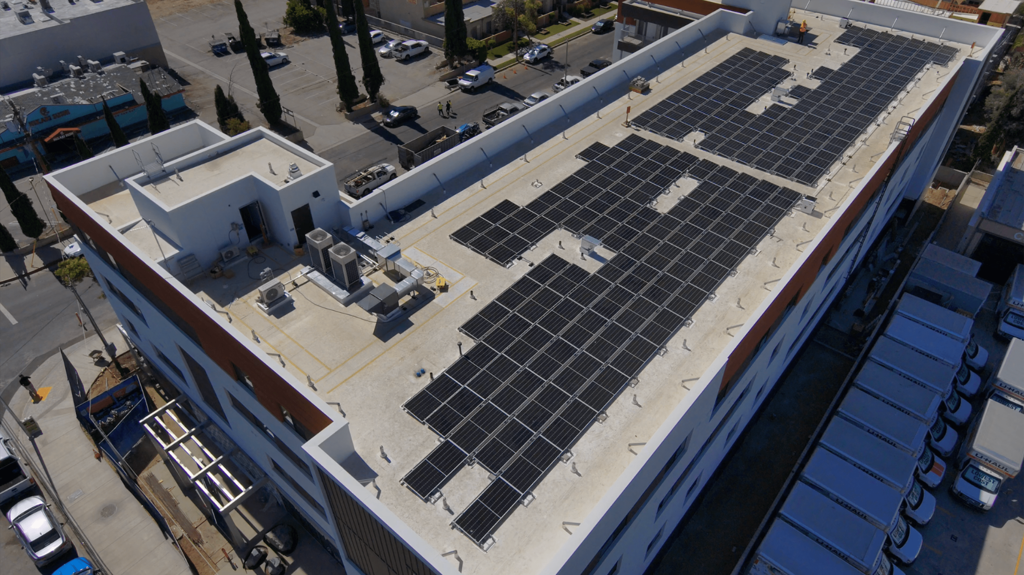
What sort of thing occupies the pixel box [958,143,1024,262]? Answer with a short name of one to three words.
building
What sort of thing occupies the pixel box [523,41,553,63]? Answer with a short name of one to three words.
car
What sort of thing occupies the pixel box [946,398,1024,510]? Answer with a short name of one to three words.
truck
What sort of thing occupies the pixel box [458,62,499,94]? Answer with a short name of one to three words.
van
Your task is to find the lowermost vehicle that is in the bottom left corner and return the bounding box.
[48,552,99,575]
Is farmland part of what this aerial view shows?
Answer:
No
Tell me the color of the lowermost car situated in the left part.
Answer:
blue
